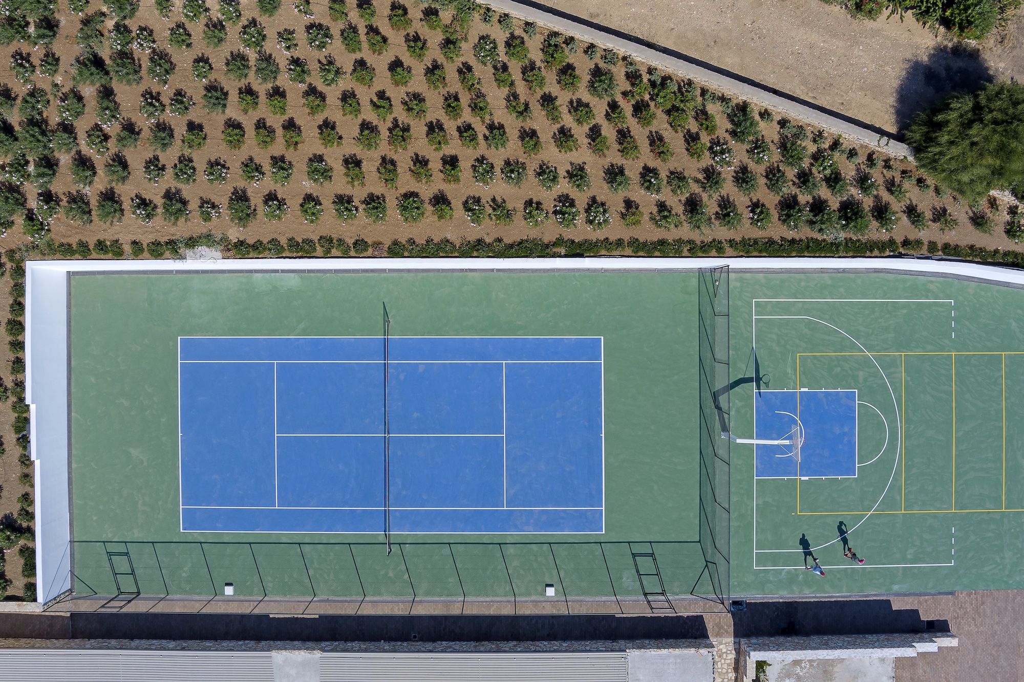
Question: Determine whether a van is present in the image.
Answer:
No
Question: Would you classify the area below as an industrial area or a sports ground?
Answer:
sports ground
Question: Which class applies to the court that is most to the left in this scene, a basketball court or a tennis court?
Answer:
tennis court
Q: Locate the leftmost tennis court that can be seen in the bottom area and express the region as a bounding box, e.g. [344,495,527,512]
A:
[70,273,715,597]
